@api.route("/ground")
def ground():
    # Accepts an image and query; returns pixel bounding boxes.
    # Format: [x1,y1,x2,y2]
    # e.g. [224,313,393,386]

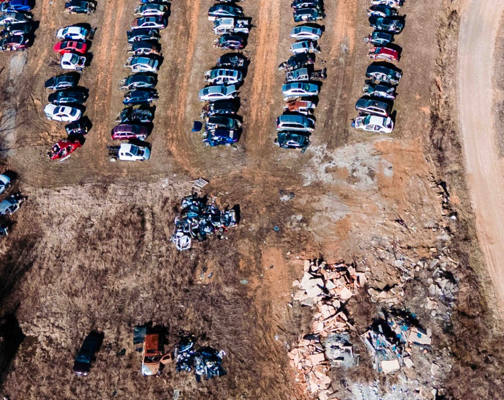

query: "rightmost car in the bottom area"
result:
[142,330,169,377]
